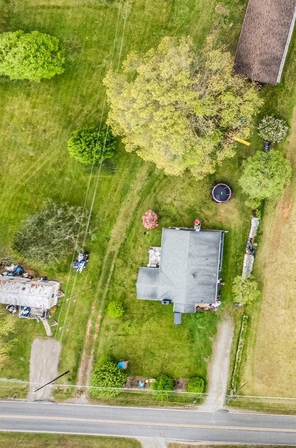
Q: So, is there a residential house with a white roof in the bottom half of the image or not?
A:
Yes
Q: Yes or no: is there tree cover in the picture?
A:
Yes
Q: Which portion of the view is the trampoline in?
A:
right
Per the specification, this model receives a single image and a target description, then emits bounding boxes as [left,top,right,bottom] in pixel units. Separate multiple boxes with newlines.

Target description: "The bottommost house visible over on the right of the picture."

[136,227,224,313]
